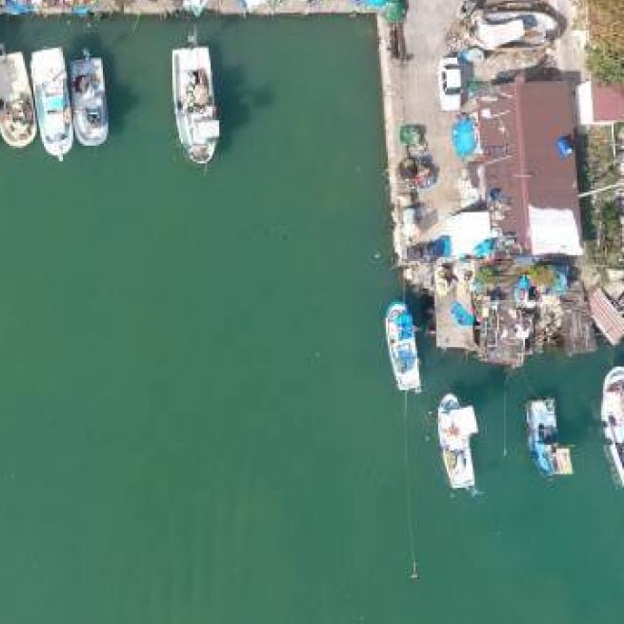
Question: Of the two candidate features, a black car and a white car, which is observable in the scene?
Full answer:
There is a white car in the scene.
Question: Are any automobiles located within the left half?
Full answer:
No, no automobile is visible within the left half.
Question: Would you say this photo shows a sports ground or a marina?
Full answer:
It's a marina.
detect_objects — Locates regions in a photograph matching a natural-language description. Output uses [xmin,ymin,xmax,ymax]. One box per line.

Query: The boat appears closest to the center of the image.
[386,302,420,397]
